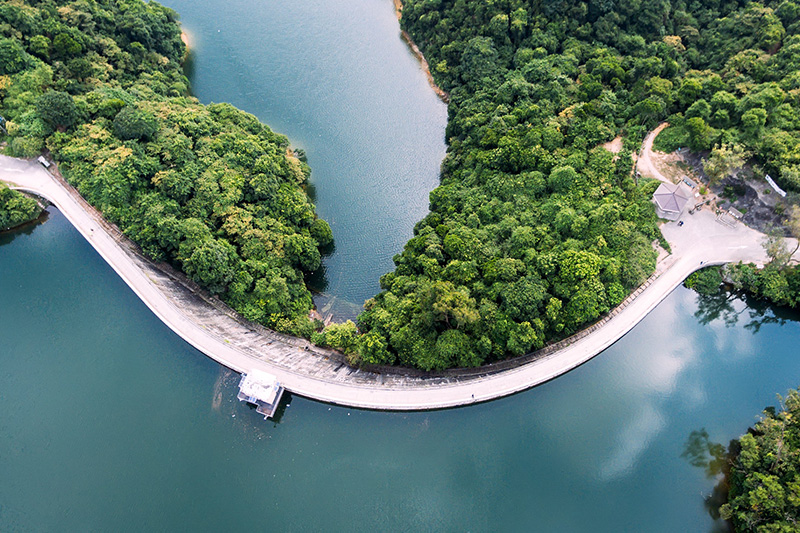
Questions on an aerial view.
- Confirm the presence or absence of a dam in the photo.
Yes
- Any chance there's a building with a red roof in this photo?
No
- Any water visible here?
Yes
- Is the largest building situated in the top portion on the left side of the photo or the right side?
right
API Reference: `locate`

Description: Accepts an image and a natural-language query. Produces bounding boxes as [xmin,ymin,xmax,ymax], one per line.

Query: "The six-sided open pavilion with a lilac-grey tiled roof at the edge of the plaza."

[646,184,690,220]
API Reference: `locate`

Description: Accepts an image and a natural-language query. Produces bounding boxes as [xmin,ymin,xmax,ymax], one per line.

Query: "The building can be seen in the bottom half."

[235,368,284,417]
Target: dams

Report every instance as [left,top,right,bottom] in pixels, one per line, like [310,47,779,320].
[48,194,682,410]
